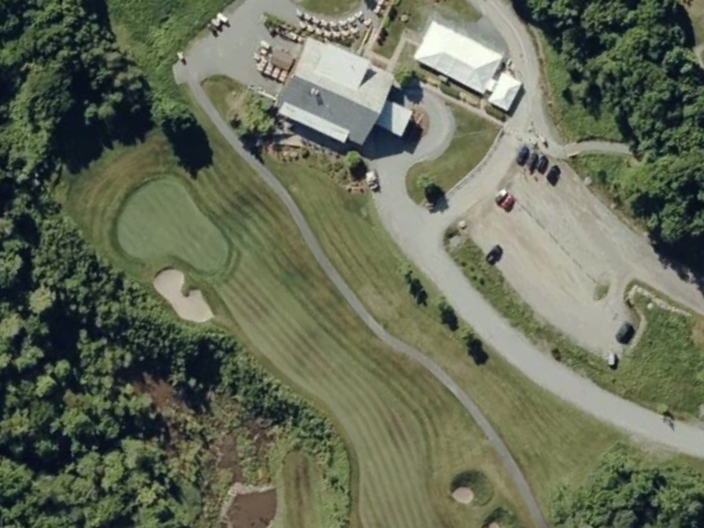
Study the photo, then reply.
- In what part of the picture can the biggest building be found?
top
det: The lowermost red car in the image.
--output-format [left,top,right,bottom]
[501,194,515,210]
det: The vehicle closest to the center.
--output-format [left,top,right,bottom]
[366,169,379,191]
